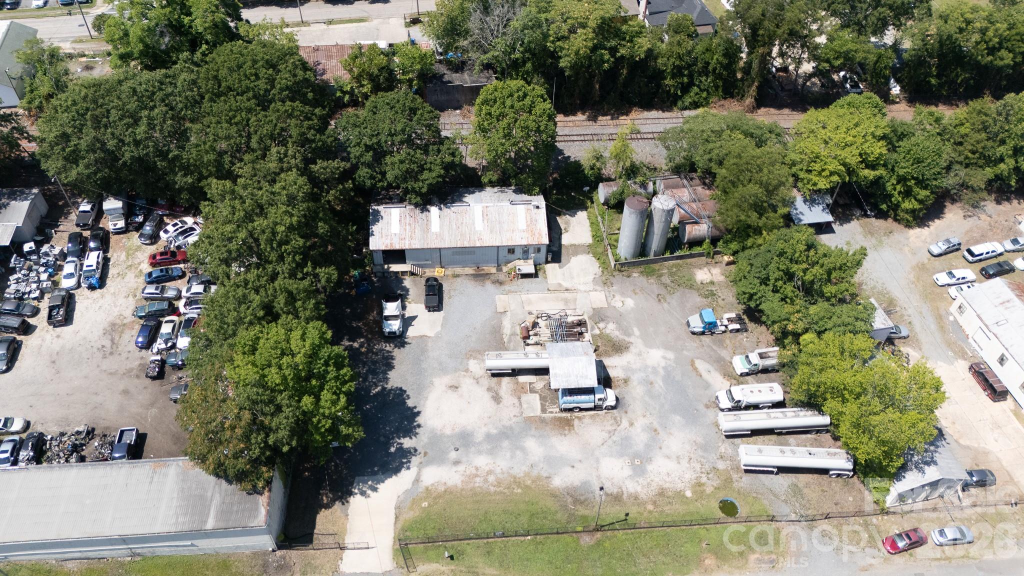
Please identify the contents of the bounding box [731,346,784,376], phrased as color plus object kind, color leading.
white truck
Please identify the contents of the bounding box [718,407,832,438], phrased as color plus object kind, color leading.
white trailer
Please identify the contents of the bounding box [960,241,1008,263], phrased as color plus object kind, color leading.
white car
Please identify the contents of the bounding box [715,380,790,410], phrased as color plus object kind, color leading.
white truck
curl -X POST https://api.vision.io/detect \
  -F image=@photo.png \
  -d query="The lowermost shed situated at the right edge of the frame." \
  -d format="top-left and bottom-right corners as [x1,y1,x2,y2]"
[886,433,978,505]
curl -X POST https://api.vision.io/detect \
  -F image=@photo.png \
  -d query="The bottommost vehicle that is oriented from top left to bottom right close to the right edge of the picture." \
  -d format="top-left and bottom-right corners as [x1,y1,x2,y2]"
[966,363,1009,400]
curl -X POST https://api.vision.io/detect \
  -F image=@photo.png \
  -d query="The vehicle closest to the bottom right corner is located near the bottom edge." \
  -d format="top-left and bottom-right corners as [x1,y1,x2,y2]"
[929,525,977,548]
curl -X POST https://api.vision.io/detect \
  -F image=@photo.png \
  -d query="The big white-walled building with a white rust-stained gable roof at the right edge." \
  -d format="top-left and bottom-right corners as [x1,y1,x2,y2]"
[949,274,1024,410]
